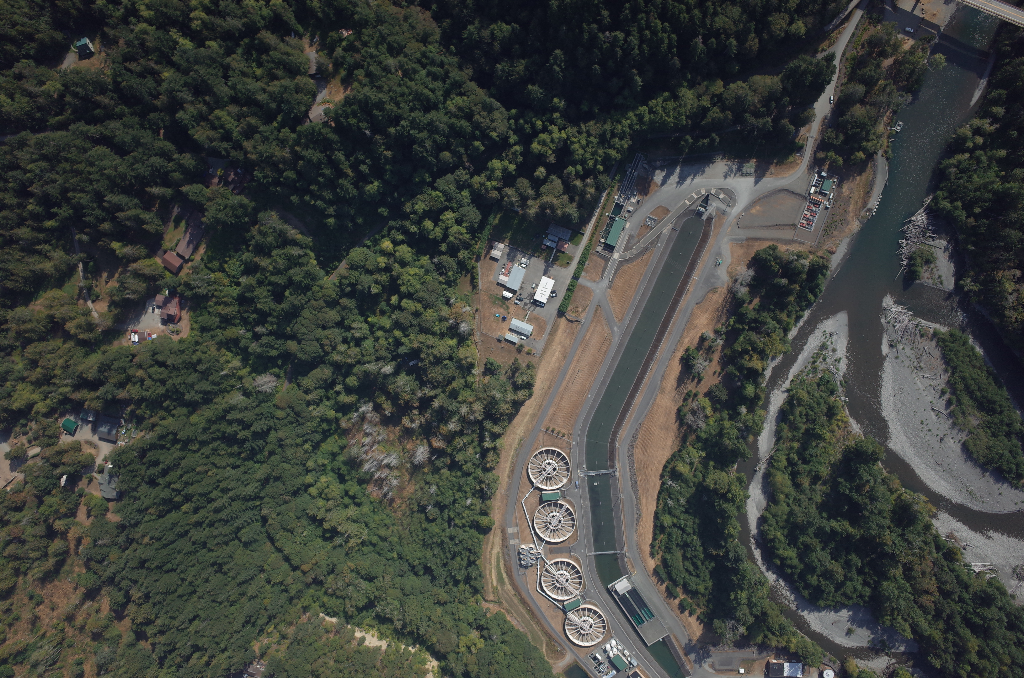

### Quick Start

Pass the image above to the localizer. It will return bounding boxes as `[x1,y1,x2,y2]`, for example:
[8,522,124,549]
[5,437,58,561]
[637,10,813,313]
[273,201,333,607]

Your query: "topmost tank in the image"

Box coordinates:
[528,447,570,489]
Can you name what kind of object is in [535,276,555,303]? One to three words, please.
building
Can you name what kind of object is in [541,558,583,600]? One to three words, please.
storage tank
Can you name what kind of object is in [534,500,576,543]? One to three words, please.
storage tank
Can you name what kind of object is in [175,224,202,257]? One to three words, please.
house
